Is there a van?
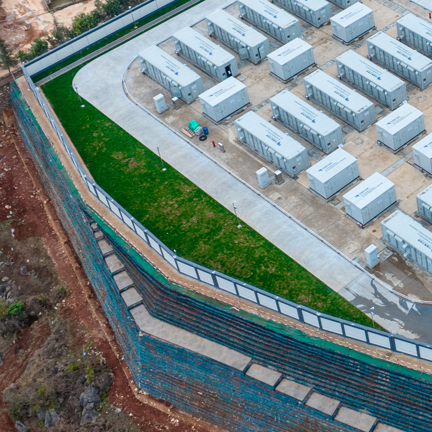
No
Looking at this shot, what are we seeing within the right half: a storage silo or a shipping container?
shipping container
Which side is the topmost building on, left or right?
right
